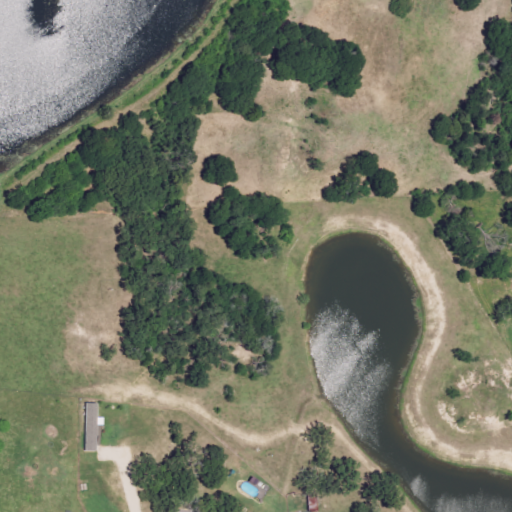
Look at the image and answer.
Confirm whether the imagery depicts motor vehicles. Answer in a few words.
No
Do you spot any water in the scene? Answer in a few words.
Yes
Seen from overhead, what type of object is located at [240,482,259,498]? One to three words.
swimming pool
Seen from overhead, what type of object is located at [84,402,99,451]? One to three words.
house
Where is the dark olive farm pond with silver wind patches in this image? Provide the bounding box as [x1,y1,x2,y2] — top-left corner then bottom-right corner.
[304,231,512,512]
